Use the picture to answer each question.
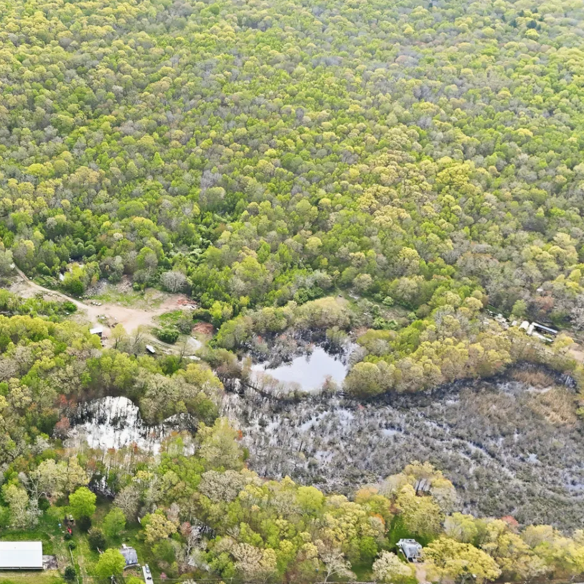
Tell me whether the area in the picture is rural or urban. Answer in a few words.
rural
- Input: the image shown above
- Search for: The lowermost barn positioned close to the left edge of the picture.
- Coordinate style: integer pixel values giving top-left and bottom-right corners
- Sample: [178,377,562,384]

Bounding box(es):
[0,540,43,570]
